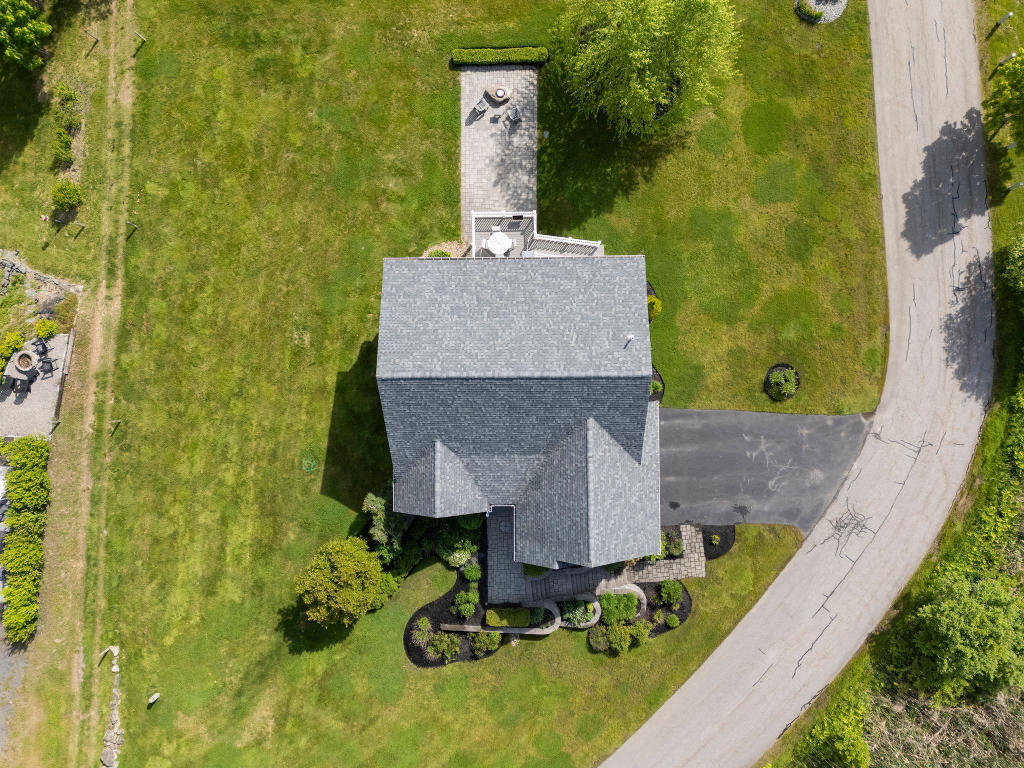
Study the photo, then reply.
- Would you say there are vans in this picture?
No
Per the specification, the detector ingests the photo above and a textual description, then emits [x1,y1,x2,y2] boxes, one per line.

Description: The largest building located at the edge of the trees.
[377,252,663,569]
